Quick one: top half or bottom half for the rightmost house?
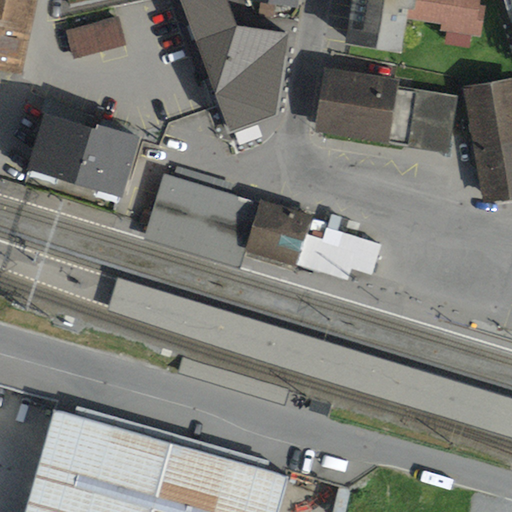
top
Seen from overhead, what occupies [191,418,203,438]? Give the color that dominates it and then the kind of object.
gray vehicle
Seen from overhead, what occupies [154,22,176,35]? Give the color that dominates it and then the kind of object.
black vehicle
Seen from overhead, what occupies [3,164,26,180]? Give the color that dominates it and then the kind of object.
gray car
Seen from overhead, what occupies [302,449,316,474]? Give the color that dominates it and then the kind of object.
white vehicle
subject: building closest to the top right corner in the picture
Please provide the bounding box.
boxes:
[408,0,486,48]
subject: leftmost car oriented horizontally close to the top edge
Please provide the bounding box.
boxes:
[73,16,95,28]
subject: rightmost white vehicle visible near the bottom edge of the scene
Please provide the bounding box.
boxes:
[414,468,455,489]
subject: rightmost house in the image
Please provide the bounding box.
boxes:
[464,80,512,200]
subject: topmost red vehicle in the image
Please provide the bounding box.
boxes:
[152,10,174,22]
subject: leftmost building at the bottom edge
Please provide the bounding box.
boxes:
[26,405,287,512]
